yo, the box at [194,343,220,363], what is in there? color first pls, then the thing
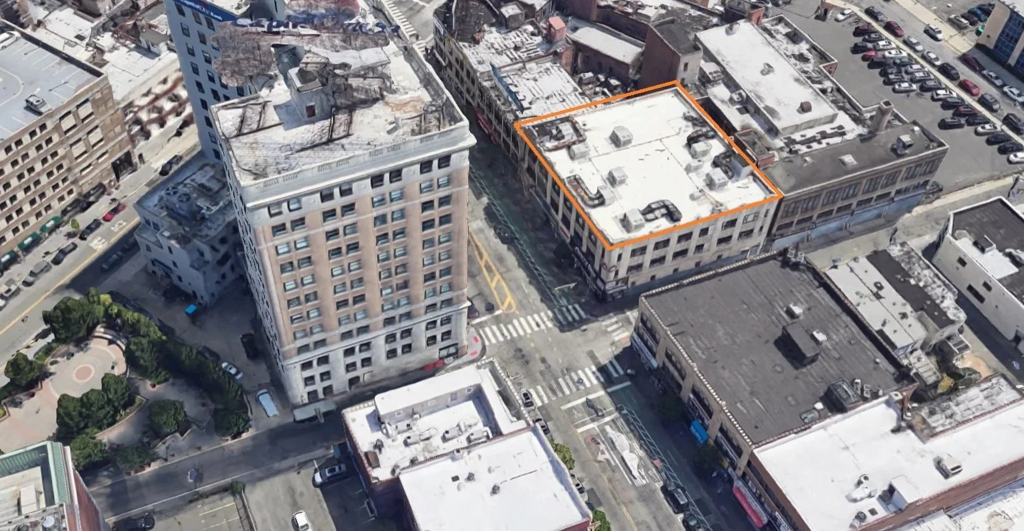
black car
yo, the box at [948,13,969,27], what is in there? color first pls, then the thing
gray car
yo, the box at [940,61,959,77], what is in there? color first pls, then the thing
black car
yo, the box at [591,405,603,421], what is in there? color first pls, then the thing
gray vehicle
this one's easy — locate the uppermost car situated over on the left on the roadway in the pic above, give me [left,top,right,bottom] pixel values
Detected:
[160,156,181,172]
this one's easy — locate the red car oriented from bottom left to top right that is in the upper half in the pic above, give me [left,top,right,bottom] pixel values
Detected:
[102,203,125,221]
